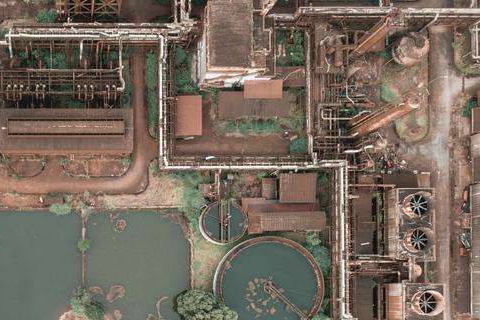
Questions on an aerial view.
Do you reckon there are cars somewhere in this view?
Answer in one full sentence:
No, there isn't any car down there.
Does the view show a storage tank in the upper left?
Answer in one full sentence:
No, no storage tank appears in the upper left.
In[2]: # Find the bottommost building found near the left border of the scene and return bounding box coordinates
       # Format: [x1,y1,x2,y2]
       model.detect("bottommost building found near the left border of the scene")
[0,107,134,158]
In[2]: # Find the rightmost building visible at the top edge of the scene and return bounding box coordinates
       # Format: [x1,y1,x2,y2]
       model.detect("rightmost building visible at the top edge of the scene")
[194,0,267,94]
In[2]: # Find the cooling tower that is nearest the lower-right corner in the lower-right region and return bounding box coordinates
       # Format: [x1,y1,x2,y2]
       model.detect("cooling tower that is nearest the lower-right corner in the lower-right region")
[400,283,450,320]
